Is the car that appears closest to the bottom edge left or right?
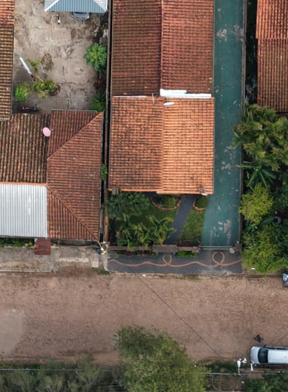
right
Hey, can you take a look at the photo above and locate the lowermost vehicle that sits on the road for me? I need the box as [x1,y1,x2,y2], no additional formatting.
[249,343,288,368]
